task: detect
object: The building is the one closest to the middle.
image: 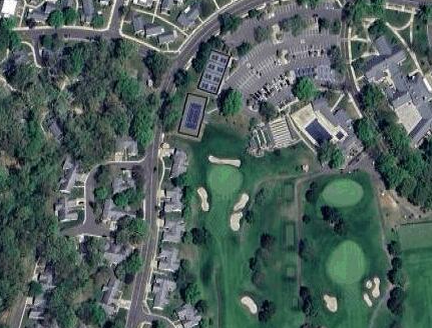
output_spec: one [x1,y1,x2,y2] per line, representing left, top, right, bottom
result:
[169,148,191,181]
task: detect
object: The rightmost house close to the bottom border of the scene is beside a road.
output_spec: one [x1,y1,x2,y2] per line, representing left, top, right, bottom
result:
[178,307,205,328]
